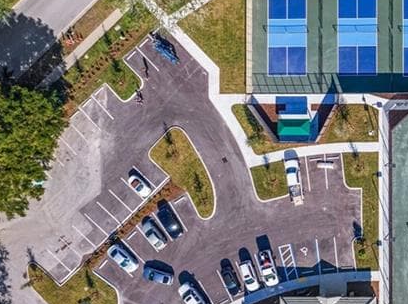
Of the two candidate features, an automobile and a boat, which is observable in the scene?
automobile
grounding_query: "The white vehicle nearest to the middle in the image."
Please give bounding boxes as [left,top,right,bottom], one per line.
[127,173,153,199]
